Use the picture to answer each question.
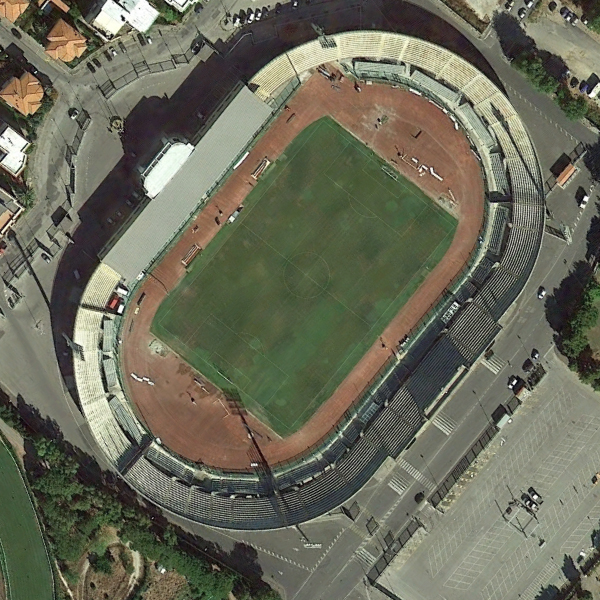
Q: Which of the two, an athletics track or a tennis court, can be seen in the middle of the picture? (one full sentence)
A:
You can see an athletics track in the middle of the picture.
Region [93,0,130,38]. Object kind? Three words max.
building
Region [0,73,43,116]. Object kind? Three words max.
house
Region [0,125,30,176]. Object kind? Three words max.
building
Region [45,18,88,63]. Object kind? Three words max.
house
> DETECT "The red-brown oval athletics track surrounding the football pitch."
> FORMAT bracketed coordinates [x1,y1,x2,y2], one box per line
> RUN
[122,64,485,469]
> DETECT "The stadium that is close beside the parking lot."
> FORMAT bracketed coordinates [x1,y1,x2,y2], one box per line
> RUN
[69,26,548,532]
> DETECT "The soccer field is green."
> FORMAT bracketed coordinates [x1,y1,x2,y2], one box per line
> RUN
[150,116,458,440]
